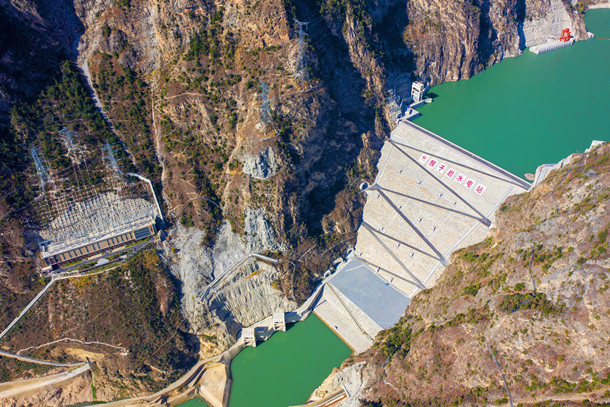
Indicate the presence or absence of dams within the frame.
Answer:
Yes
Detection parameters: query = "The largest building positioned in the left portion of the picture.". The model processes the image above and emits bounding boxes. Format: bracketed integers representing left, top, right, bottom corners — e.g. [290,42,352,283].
[40,215,157,268]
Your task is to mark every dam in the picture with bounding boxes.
[315,120,531,353]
